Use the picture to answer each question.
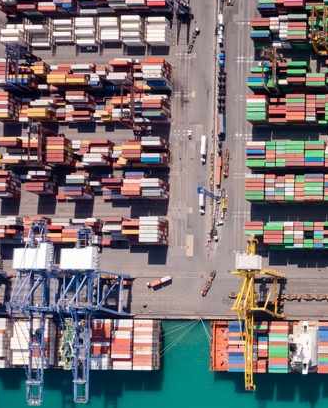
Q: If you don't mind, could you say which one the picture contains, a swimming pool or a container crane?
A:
container crane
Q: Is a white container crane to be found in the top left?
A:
No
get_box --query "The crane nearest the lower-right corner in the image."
[229,235,287,391]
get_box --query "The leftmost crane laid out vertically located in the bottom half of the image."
[0,222,83,404]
